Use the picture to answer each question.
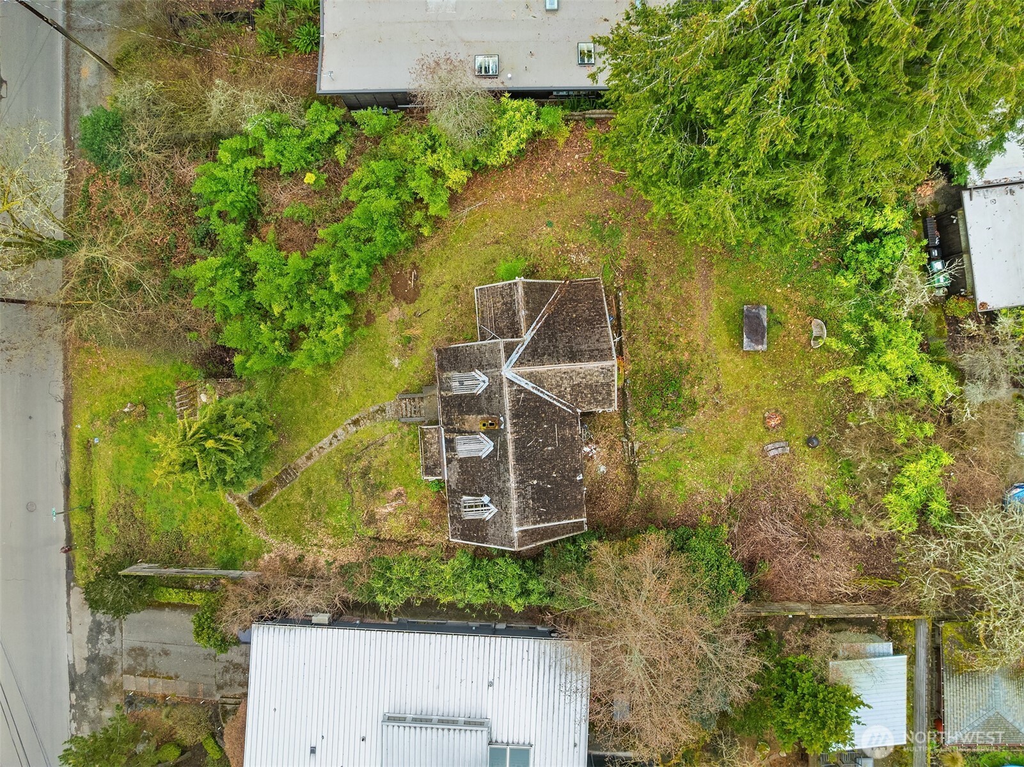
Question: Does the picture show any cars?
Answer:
No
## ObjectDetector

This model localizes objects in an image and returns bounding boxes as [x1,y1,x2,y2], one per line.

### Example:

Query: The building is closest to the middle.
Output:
[419,277,619,551]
